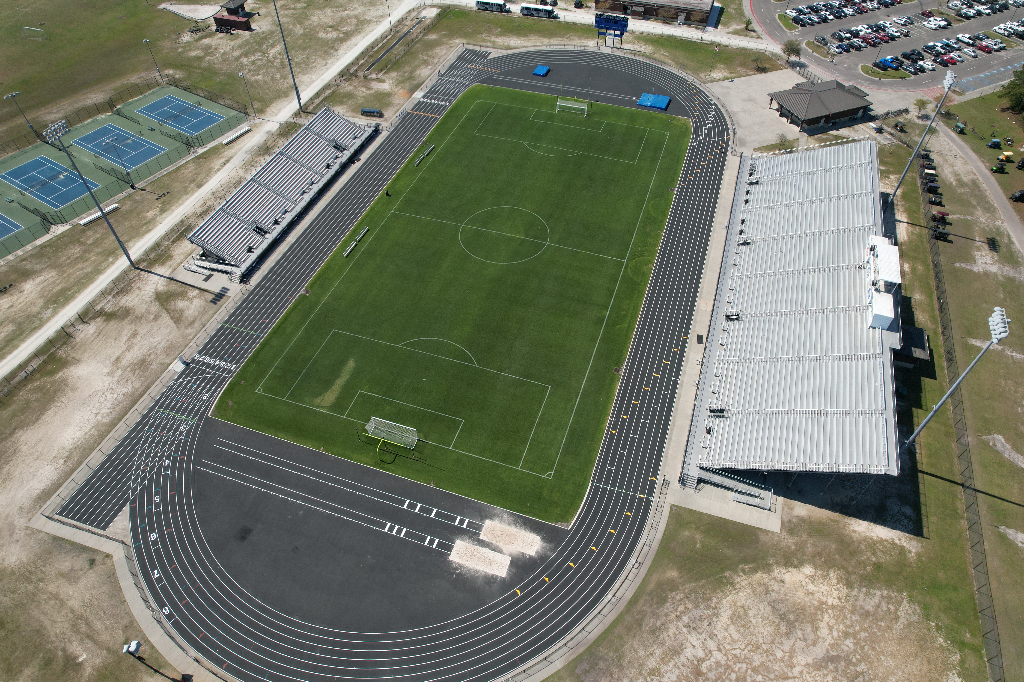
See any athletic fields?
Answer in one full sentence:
Yes, looking at the shot, I can spot an athletic field.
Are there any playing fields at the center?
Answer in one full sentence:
Yes, at the center there is a playing field.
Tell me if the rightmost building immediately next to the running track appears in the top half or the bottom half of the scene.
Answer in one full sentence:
Seen from above, the rightmost building immediately next to the running track lies in the top half of the view.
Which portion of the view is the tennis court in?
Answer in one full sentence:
The tennis court is located in the top left region of the scene.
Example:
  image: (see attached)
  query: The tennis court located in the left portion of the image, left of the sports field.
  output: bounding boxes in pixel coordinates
[0,94,225,239]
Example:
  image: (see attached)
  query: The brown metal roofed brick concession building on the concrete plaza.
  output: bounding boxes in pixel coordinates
[767,73,873,132]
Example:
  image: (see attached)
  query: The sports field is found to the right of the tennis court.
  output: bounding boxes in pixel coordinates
[207,83,692,528]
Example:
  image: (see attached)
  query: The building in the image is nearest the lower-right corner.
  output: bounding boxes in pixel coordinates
[890,324,930,368]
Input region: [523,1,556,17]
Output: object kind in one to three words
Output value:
vehicle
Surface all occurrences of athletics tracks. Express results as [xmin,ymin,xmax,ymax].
[53,48,731,682]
